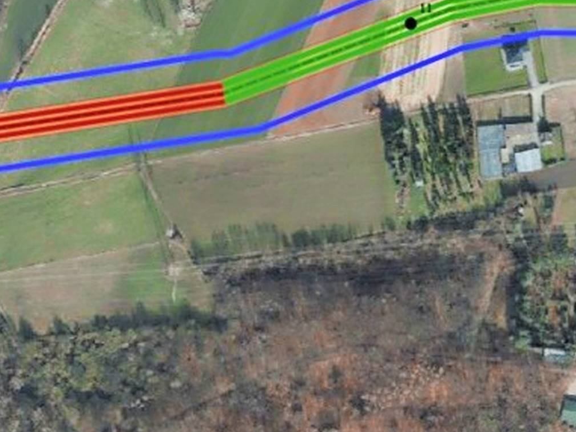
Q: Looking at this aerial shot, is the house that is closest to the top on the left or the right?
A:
right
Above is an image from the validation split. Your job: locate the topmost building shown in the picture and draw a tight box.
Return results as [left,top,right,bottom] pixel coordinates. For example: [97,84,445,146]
[506,42,530,65]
